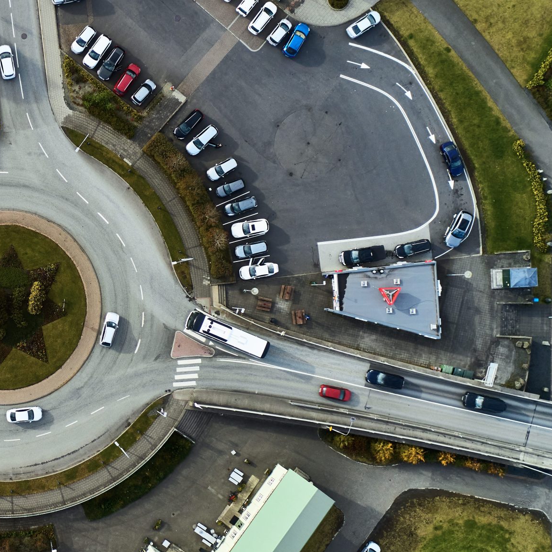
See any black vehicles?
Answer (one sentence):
Yes, the image includes a black vehicle.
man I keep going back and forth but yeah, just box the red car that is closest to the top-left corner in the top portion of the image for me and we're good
[114,64,139,95]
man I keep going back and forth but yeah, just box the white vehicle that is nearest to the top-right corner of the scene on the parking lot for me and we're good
[346,11,379,38]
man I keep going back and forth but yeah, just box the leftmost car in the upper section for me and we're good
[0,46,14,79]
